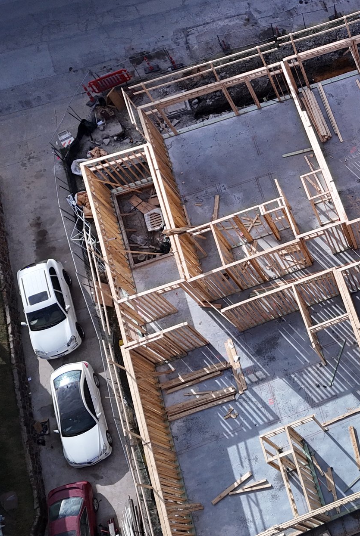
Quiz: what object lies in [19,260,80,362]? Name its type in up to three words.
car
